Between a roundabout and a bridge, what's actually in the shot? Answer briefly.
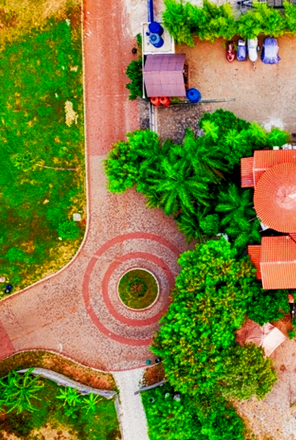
roundabout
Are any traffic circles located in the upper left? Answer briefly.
No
